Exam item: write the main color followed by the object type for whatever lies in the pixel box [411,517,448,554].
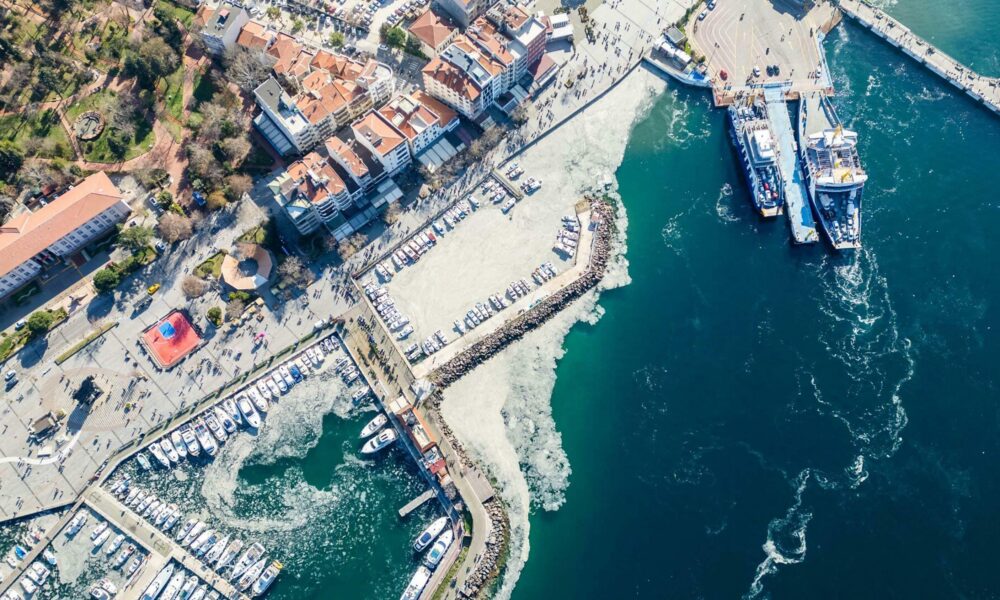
white boat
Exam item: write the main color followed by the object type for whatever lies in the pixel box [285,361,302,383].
blue boat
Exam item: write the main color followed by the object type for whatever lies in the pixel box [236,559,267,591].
white boat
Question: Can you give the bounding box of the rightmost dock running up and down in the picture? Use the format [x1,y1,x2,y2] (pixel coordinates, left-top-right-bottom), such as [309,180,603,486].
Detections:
[767,103,818,244]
